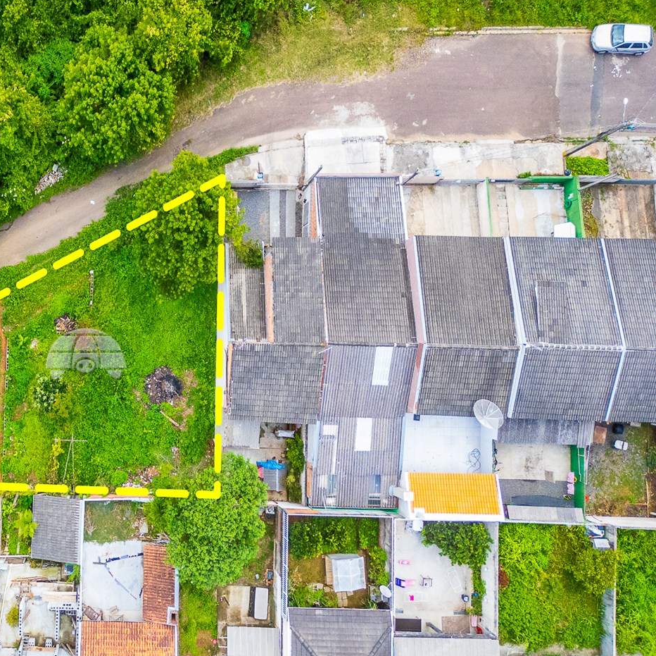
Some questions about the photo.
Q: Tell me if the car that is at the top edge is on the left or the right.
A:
right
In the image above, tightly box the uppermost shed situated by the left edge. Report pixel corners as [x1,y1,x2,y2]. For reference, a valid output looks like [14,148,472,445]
[31,489,83,567]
